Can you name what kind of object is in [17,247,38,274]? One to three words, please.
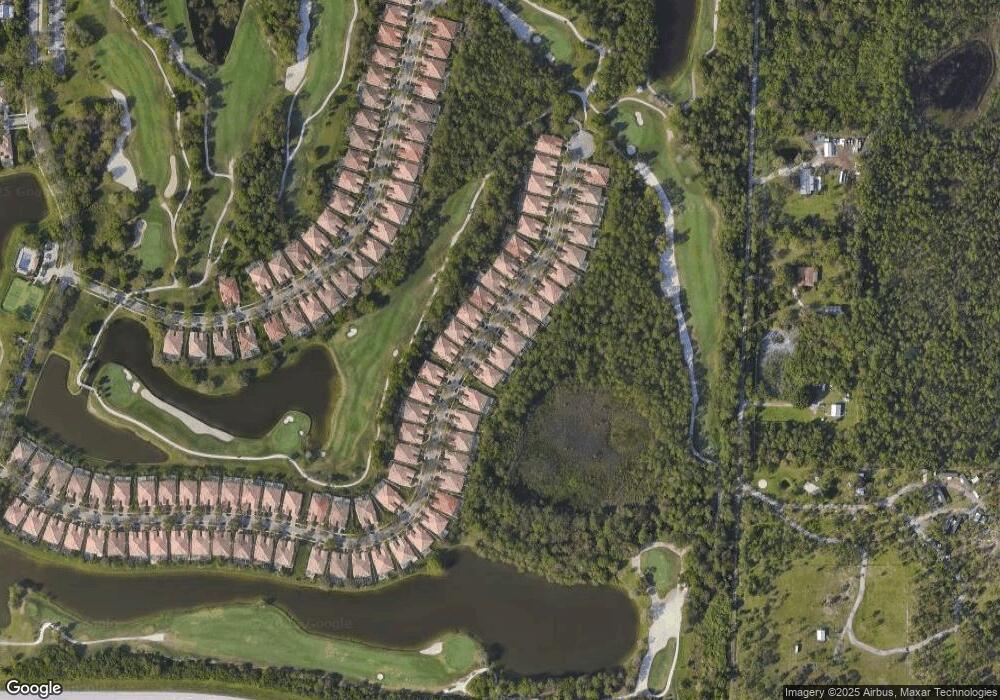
swimming pool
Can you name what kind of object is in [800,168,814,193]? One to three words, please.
barn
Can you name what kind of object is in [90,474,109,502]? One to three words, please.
house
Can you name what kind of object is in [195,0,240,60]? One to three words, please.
pond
